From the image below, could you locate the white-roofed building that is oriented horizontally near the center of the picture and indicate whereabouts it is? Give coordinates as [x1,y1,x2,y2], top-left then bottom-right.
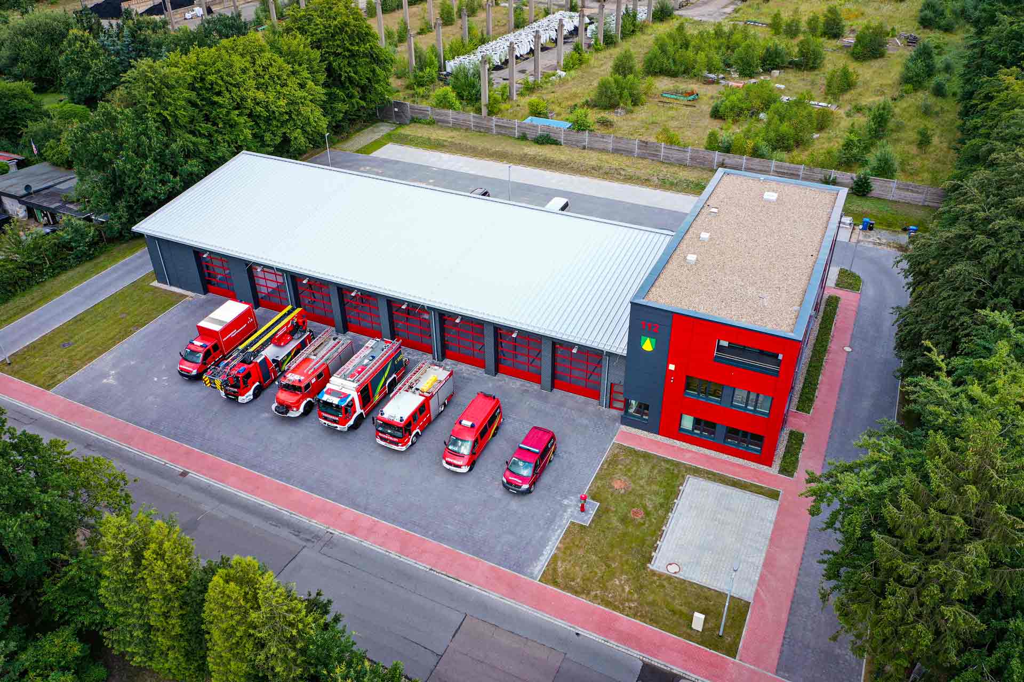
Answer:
[130,149,677,413]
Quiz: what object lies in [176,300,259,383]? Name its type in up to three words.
vehicle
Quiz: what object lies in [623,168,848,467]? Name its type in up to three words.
building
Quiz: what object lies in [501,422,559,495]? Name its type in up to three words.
van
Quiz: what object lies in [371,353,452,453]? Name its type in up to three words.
truck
